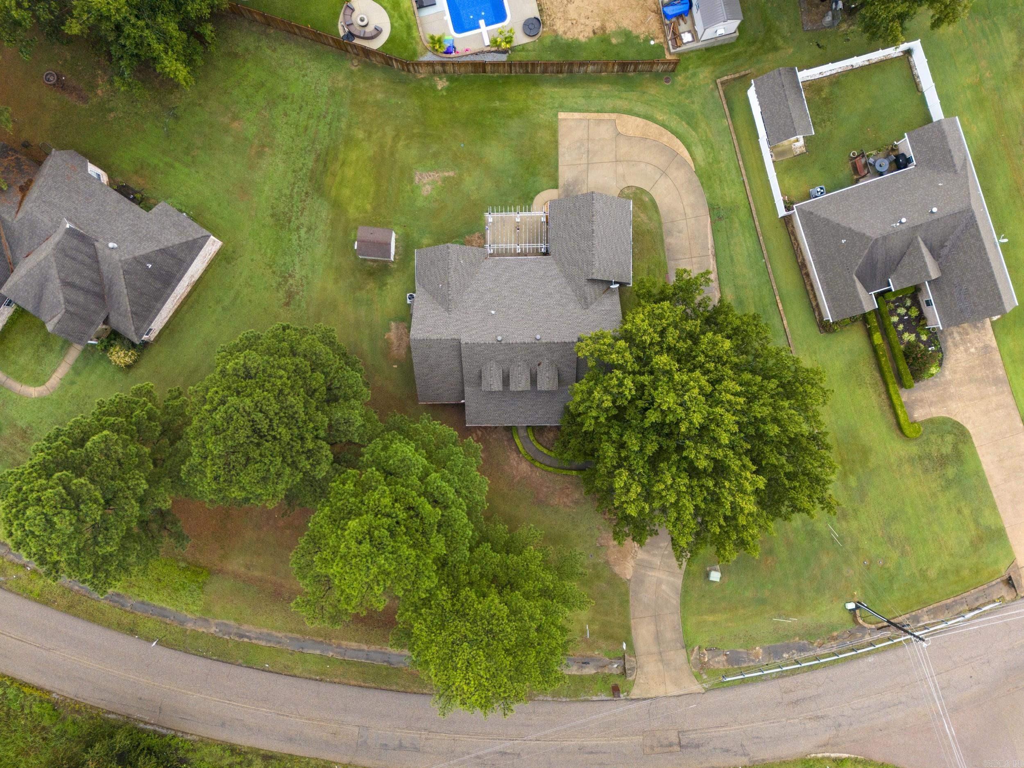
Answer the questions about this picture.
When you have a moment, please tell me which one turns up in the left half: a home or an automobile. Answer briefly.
home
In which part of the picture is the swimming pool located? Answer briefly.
top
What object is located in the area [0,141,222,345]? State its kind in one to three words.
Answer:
house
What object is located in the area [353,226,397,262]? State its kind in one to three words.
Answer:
shed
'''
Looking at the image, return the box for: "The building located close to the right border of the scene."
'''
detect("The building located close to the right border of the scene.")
[787,116,1019,329]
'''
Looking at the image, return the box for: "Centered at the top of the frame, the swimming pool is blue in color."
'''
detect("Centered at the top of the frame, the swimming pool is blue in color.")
[443,0,512,38]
